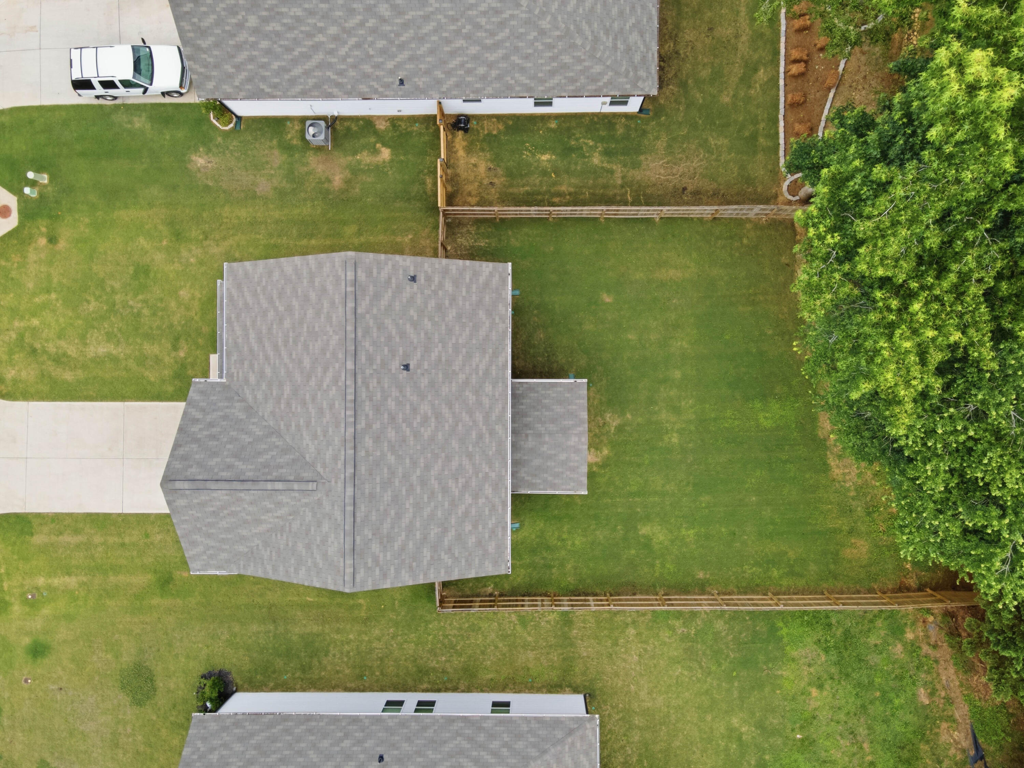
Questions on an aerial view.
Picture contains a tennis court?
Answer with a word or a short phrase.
No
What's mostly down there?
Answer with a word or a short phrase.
grass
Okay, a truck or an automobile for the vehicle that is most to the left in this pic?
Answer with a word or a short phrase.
automobile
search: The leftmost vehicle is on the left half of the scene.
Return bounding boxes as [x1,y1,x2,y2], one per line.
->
[69,38,194,102]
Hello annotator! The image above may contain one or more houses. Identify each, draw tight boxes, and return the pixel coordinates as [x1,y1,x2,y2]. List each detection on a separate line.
[162,252,588,593]
[171,0,659,118]
[181,688,599,768]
